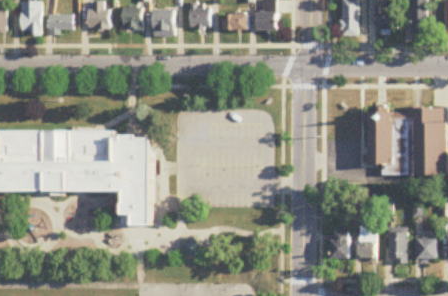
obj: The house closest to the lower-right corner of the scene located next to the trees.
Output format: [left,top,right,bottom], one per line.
[418,238,440,264]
